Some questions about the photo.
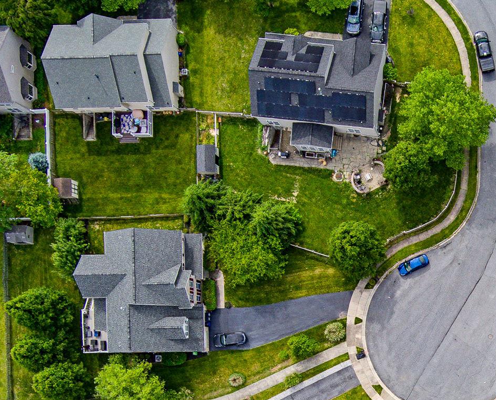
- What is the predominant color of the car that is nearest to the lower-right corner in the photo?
blue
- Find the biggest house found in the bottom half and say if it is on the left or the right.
left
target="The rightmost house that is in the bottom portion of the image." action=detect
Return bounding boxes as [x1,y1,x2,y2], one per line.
[73,227,209,353]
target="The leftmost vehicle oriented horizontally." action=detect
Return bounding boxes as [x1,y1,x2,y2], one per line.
[212,332,248,349]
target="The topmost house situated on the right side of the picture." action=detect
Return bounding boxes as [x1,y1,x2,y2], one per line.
[248,30,386,152]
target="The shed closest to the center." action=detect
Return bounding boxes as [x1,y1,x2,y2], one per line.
[196,143,220,177]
